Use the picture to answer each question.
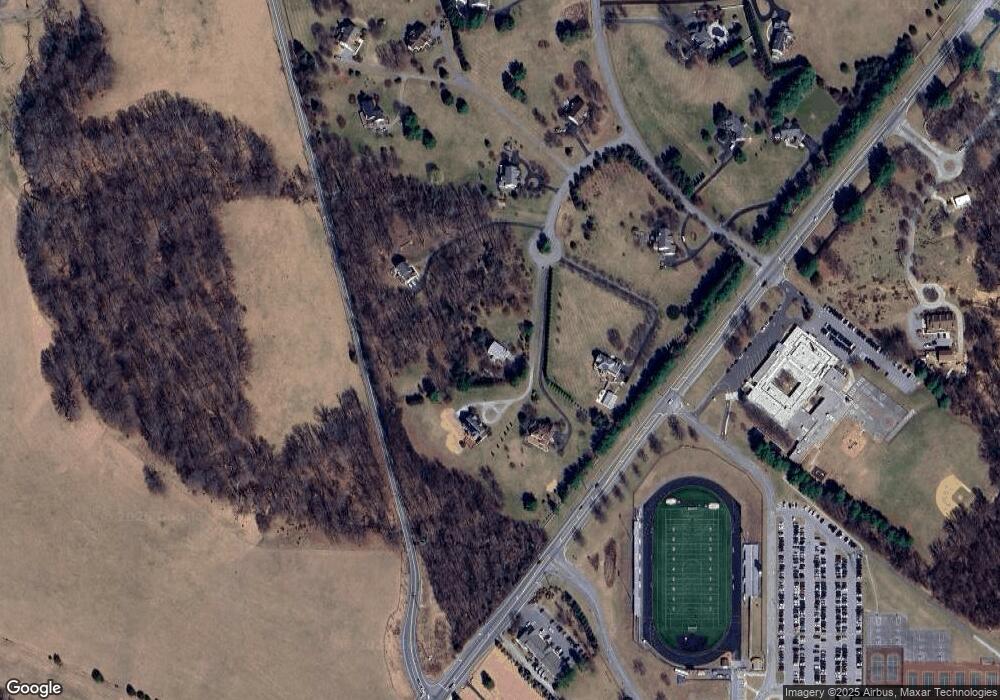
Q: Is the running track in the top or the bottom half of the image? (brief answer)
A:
bottom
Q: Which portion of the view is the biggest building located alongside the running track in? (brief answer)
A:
right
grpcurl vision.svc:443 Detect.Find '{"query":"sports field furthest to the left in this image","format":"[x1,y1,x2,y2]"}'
[653,486,730,653]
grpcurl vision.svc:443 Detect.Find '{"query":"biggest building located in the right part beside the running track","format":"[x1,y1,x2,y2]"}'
[745,323,856,465]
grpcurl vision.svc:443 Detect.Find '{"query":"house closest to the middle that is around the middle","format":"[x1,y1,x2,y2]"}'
[487,338,514,363]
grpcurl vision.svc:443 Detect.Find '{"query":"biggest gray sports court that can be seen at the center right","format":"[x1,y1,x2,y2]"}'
[845,376,911,441]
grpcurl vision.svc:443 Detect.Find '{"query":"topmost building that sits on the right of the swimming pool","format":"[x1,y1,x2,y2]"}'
[770,19,792,58]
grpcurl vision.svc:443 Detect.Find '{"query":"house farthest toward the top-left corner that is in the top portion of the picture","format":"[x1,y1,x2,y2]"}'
[340,21,362,50]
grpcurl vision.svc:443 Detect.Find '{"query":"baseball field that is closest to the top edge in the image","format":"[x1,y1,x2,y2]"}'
[936,472,977,519]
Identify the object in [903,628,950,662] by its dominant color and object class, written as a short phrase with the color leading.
gray basketball court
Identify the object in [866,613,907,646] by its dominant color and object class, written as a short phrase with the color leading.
gray basketball court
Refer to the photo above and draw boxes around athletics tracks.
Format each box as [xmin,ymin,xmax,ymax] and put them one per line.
[643,477,741,667]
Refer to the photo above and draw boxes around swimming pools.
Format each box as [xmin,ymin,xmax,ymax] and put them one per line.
[707,21,729,41]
